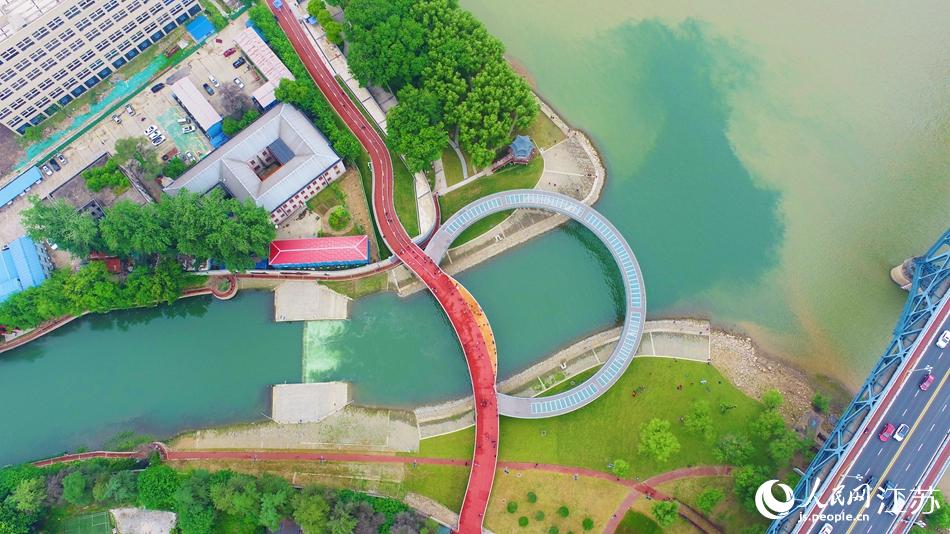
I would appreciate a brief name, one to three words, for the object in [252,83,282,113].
shed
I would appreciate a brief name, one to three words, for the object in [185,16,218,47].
shed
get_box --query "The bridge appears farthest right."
[759,232,950,534]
